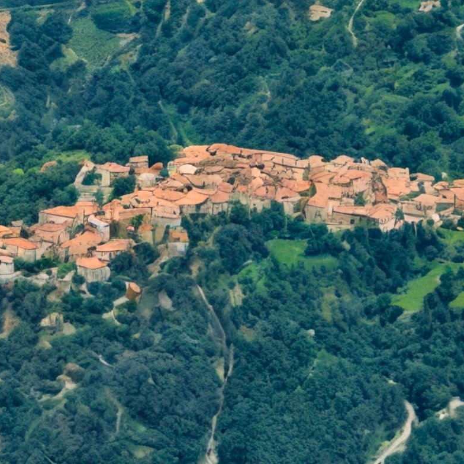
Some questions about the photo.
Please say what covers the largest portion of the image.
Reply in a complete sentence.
The bulk of the photo consists of trees.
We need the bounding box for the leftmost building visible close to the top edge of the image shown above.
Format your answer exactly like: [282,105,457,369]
[307,1,331,23]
